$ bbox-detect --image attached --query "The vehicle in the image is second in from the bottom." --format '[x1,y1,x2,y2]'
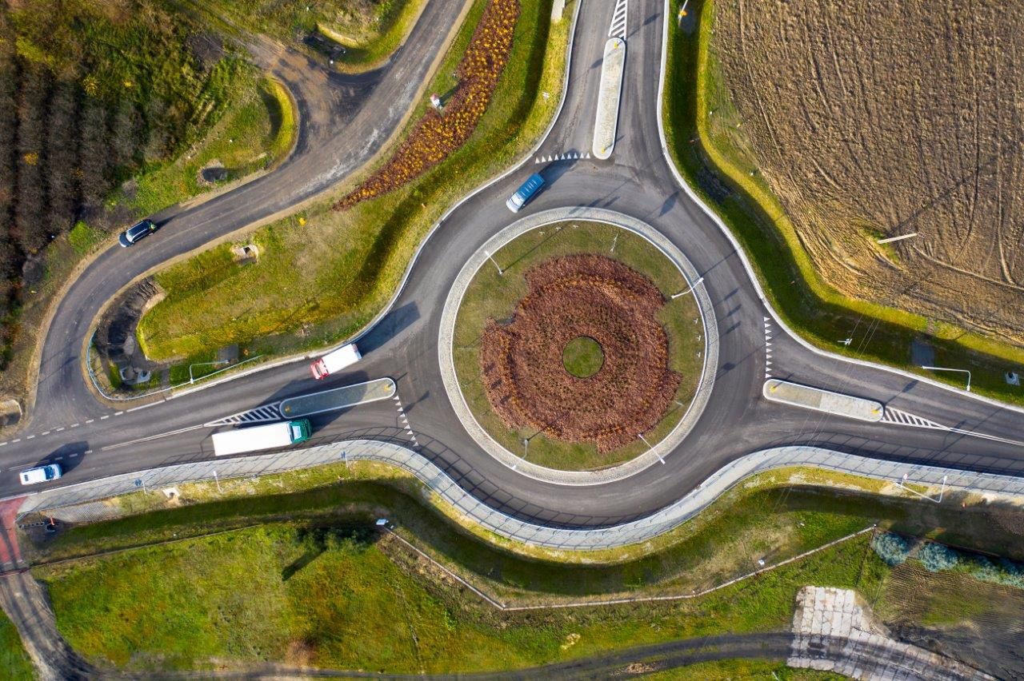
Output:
[212,415,321,457]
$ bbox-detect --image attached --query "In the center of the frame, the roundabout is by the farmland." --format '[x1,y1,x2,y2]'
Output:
[369,135,790,531]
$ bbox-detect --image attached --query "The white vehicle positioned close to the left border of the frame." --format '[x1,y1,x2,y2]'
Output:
[16,462,65,486]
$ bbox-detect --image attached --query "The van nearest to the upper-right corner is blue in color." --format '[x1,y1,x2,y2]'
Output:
[506,171,546,214]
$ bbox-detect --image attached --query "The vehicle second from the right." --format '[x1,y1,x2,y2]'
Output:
[310,342,366,382]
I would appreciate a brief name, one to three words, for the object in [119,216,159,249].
car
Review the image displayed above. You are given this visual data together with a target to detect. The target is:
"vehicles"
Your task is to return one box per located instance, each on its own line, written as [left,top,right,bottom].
[310,342,366,382]
[506,171,546,214]
[16,462,65,486]
[212,415,321,457]
[119,216,159,249]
